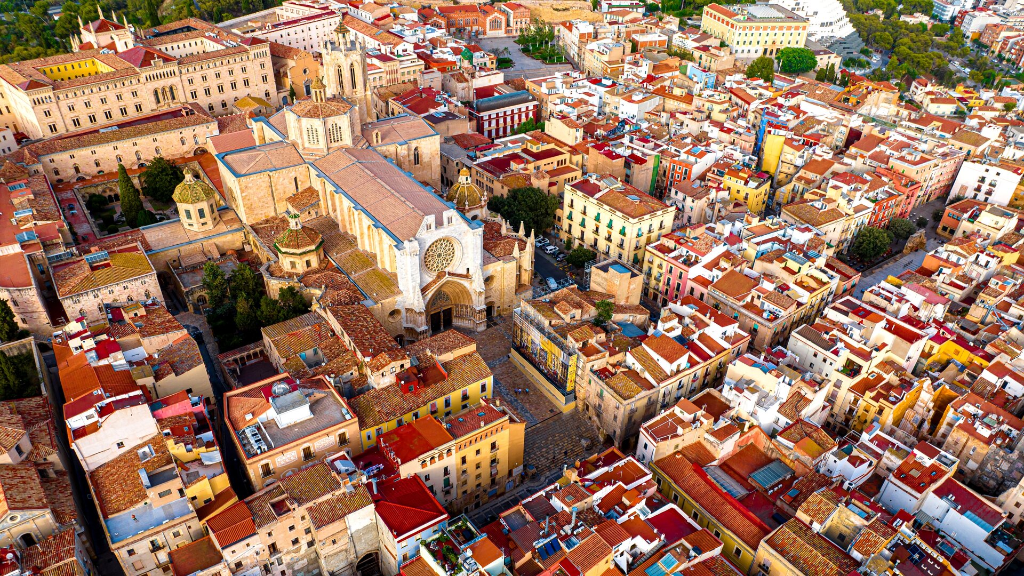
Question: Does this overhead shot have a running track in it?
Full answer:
No, the picture doesn't show any running track.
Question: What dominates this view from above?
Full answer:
The scene is dominated by buildings.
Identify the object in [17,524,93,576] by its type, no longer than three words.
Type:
house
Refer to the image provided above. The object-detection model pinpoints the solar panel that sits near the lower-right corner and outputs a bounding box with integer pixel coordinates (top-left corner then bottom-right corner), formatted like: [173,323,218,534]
[905,545,930,568]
